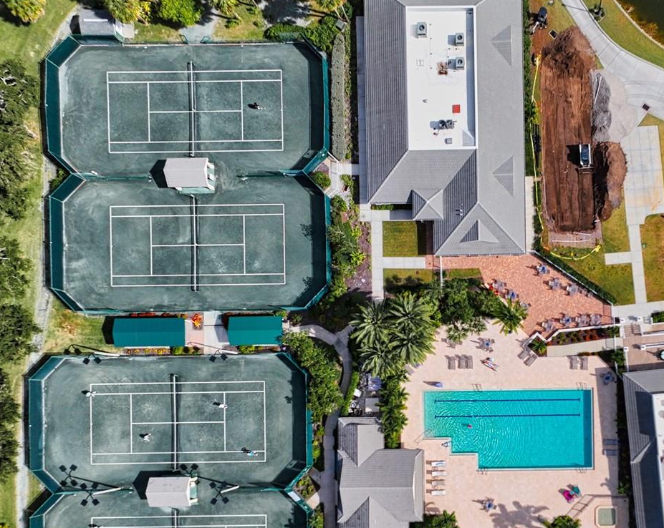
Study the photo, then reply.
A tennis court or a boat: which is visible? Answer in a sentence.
It is a tennis court that can be seen here.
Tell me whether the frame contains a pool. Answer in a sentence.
Yes, there's a pool down there.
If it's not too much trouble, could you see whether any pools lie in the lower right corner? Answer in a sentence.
Yes, in the lower right corner there is a pool.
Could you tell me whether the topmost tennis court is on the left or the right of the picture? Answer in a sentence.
It is on the left.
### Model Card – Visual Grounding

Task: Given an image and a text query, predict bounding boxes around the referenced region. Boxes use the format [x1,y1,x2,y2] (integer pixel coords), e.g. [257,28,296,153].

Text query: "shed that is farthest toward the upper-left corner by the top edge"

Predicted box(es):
[75,9,123,41]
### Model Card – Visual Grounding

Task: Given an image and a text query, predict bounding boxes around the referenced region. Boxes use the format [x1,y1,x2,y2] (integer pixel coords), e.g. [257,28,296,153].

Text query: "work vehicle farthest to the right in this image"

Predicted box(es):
[577,144,592,172]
